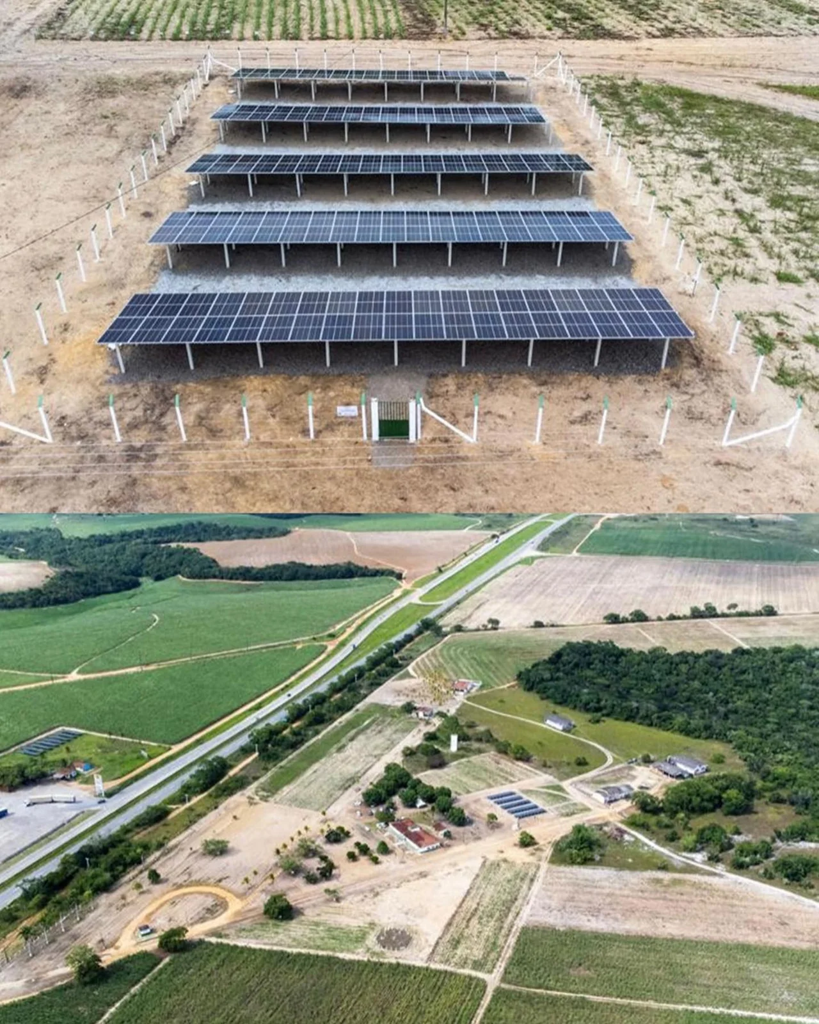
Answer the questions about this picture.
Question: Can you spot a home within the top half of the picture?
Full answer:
No, looking within the top half of the picture, there is no home.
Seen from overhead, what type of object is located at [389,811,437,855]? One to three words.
house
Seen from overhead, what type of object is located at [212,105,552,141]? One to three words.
solar array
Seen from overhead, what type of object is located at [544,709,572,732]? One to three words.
barn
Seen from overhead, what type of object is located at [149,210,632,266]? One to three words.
solar array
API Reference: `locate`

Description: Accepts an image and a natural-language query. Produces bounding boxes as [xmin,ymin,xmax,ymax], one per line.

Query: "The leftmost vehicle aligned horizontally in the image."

[21,794,75,810]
